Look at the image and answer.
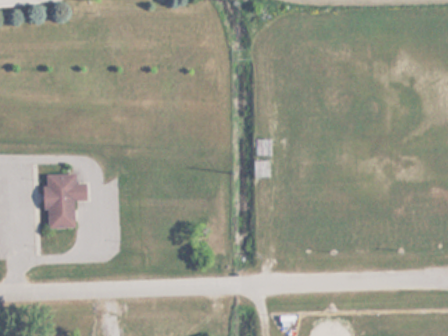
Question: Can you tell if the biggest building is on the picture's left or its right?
left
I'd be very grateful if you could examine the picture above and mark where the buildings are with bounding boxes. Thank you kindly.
[280,316,298,332]
[44,175,88,230]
